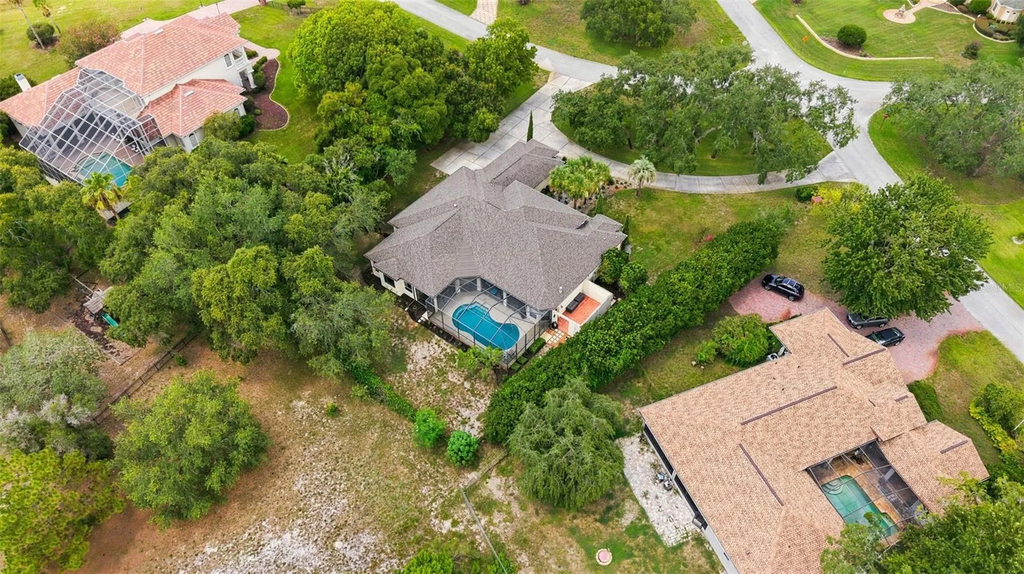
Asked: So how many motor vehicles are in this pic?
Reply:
three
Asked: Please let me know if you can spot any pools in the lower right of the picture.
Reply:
Yes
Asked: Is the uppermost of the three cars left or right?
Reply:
right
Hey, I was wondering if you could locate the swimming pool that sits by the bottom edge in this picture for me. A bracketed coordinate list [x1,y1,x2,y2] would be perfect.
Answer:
[819,473,902,556]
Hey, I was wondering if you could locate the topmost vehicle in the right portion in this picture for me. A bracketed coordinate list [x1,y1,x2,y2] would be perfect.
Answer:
[762,274,806,301]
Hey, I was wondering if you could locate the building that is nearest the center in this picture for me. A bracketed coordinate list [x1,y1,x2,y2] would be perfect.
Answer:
[365,138,629,323]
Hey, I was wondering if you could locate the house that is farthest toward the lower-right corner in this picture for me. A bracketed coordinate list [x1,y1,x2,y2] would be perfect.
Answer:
[639,306,987,574]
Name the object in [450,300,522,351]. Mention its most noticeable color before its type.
blue swimming pool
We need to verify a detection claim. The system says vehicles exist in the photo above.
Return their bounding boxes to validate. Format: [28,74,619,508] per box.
[862,325,905,347]
[847,308,891,329]
[762,274,806,301]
